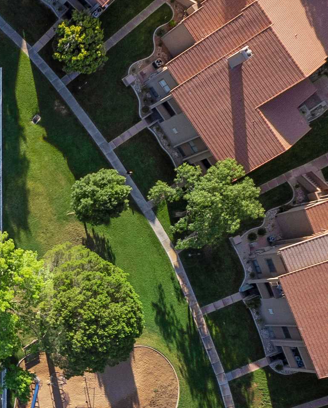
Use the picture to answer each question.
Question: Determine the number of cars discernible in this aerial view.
0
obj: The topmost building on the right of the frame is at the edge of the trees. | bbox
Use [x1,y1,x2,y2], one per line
[126,0,328,198]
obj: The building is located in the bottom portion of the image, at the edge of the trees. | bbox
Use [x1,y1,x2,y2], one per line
[222,172,328,378]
